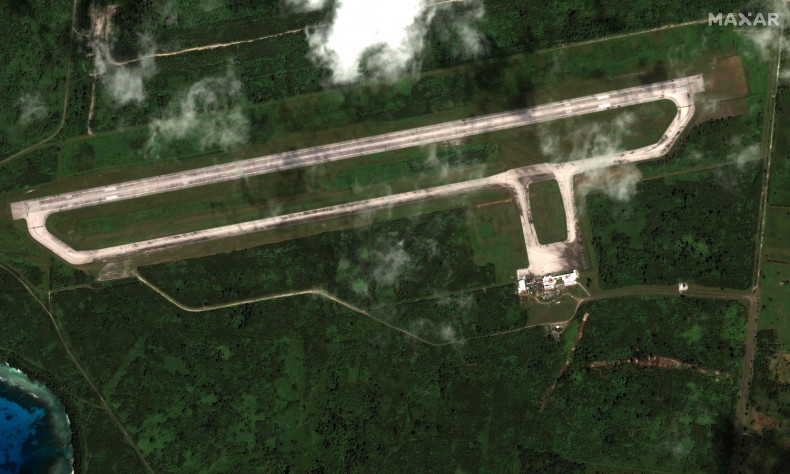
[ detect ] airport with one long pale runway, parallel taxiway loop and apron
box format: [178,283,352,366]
[0,16,761,326]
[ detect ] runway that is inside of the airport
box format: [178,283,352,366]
[25,77,690,217]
